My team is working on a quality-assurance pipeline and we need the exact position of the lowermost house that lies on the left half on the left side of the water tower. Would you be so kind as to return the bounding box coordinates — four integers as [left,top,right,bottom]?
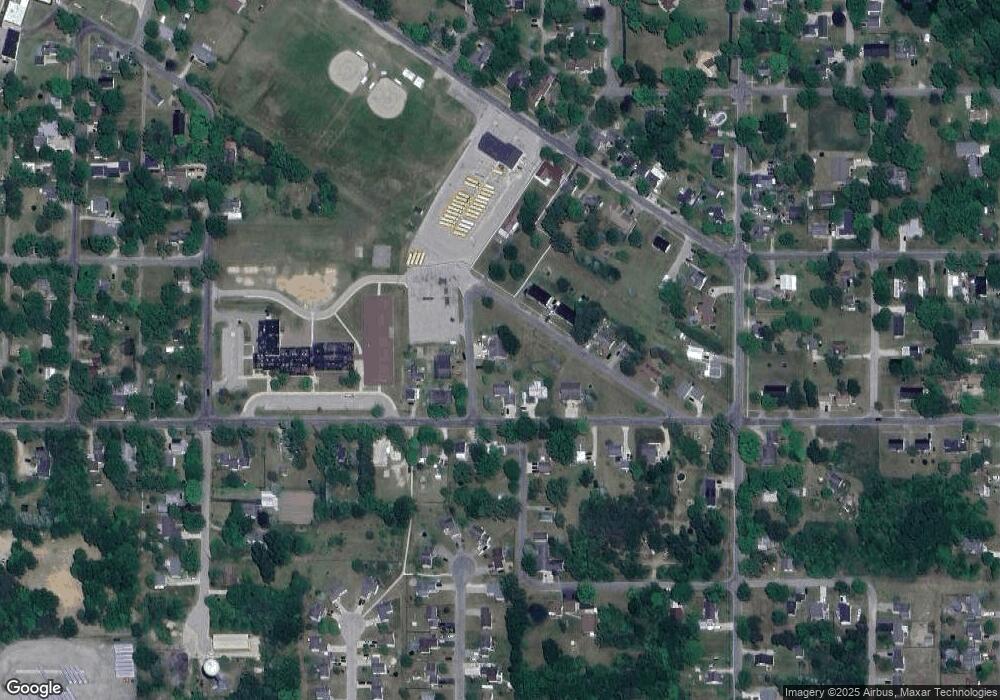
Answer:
[167,651,190,675]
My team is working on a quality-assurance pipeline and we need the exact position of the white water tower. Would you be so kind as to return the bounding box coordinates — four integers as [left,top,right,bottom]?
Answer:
[200,660,231,689]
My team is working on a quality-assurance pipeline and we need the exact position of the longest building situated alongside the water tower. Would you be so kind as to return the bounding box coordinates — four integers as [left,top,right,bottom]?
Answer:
[212,634,249,649]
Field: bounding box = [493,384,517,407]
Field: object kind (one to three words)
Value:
house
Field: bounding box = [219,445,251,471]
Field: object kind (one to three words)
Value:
building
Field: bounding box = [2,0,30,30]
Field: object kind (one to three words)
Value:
building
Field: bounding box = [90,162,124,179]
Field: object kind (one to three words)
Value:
house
